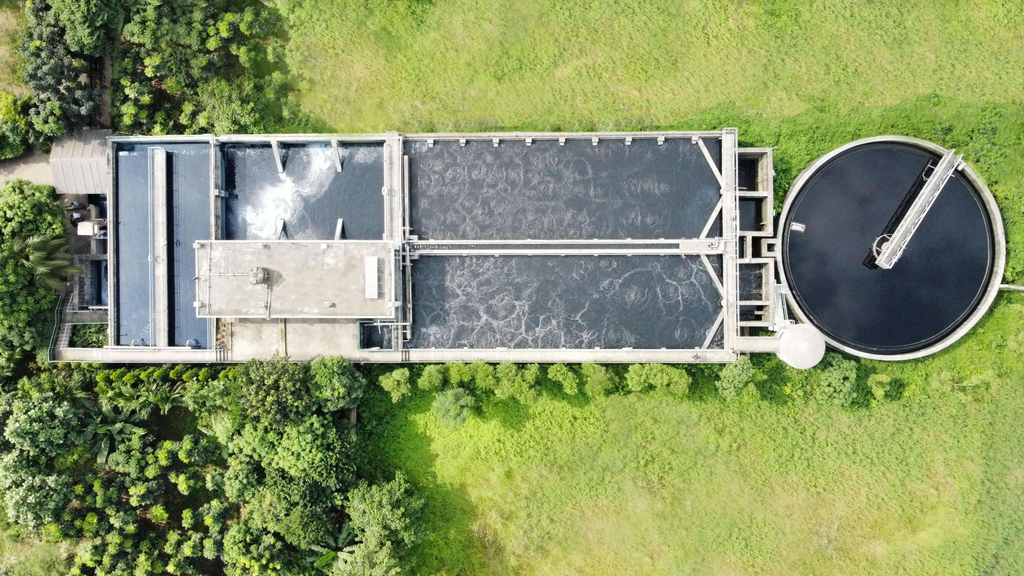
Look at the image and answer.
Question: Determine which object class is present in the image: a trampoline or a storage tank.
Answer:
storage tank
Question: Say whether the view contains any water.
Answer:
Yes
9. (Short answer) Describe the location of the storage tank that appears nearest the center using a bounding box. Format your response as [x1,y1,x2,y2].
[357,319,397,351]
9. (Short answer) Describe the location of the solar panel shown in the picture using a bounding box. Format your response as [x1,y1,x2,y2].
[365,257,379,298]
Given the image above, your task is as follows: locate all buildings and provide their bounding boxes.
[48,130,116,194]
[193,240,402,318]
